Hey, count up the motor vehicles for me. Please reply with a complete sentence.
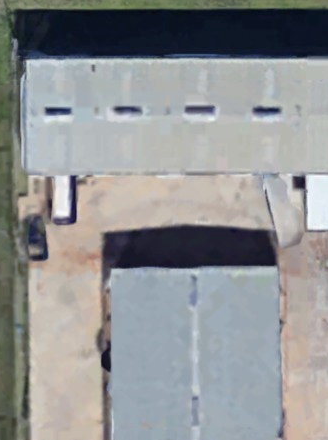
In total, 2 motor vehicles can be seen.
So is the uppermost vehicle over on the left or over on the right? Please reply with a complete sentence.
You can find the uppermost vehicle on the left side of the picture.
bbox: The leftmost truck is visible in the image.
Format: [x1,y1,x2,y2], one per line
[25,217,48,260]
